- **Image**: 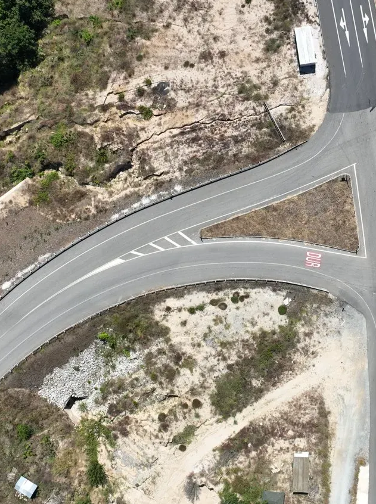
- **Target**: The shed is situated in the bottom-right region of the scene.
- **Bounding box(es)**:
[293,453,309,494]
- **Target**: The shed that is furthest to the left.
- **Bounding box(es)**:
[15,476,39,498]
